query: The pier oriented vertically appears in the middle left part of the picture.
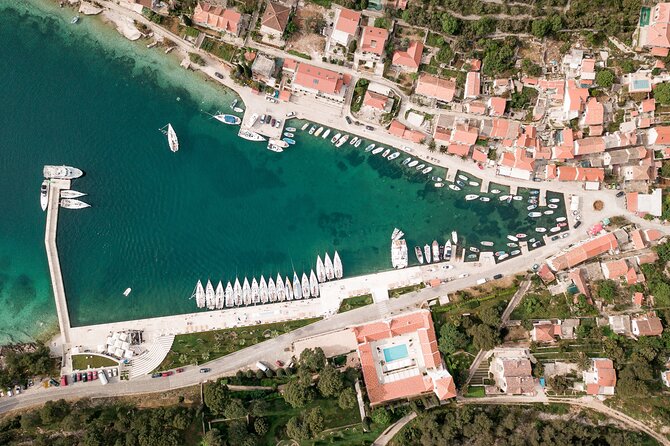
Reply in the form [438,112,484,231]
[44,179,72,343]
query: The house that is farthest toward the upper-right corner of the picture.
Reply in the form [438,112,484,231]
[637,1,670,58]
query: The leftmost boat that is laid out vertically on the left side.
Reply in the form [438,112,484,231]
[37,179,50,211]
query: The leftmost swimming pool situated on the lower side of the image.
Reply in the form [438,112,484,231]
[380,341,412,366]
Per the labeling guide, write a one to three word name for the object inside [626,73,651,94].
swimming pool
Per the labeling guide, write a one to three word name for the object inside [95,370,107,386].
vehicle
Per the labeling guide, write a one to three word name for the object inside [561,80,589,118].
house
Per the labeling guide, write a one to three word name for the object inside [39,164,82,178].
boat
